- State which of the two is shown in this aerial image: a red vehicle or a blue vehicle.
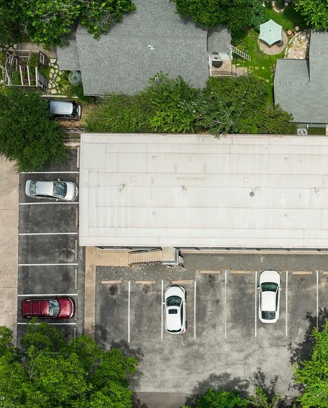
red vehicle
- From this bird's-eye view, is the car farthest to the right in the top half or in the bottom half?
bottom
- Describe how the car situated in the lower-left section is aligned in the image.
horizontally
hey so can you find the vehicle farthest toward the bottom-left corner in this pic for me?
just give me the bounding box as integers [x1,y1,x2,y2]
[20,296,77,321]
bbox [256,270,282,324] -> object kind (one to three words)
car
